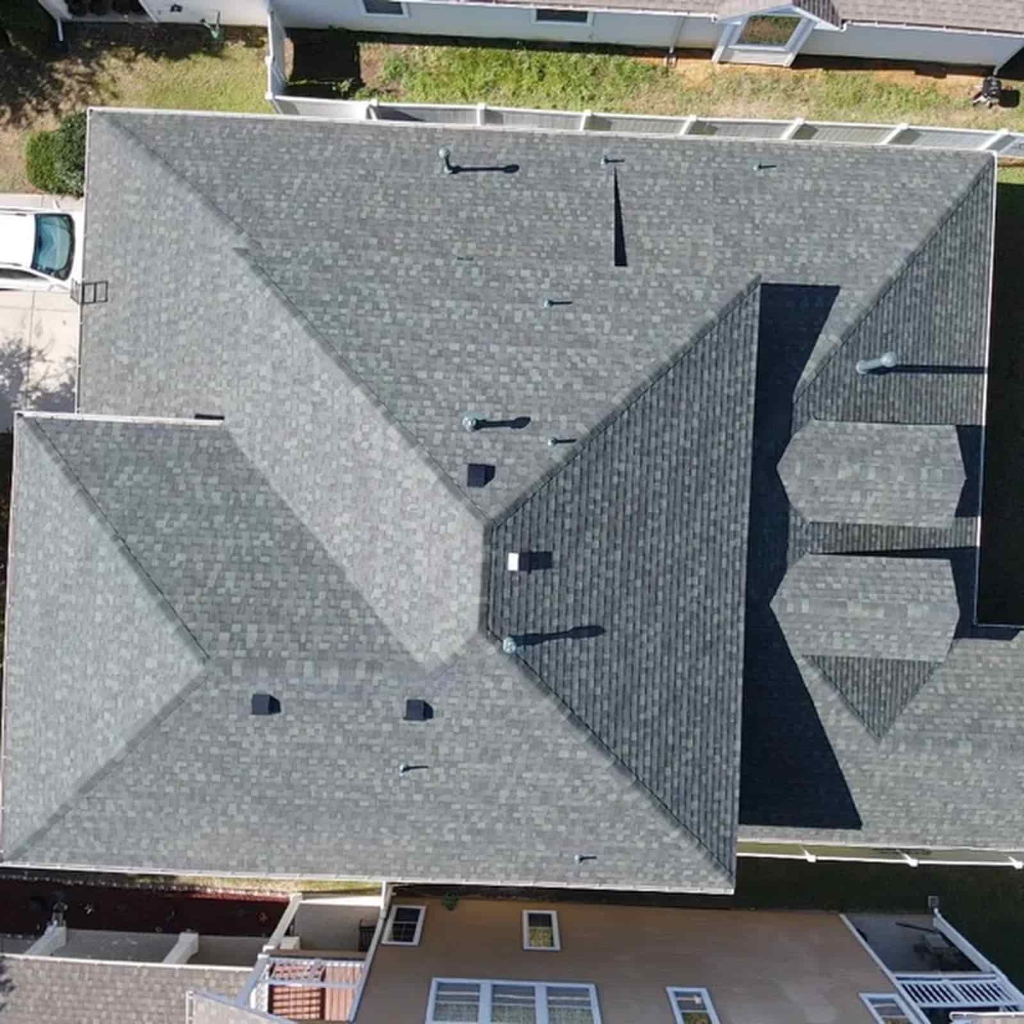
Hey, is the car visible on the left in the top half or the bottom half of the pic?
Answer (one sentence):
The car visible on the left sits in the top half of the picture.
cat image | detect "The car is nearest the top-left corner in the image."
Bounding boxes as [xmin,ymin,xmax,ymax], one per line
[0,200,86,293]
